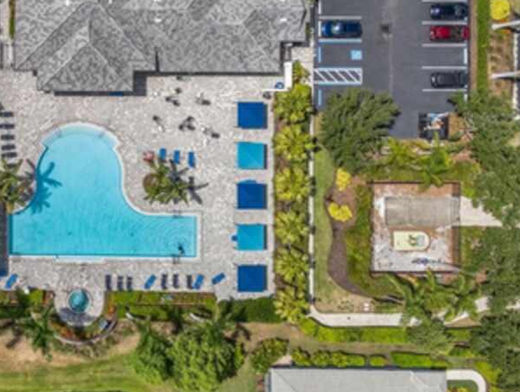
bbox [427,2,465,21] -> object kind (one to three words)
car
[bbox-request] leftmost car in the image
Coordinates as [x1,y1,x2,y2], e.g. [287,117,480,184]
[319,20,361,39]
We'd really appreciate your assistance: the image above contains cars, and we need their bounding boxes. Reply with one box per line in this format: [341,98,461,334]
[428,24,467,43]
[319,20,361,39]
[428,70,465,89]
[427,2,465,21]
